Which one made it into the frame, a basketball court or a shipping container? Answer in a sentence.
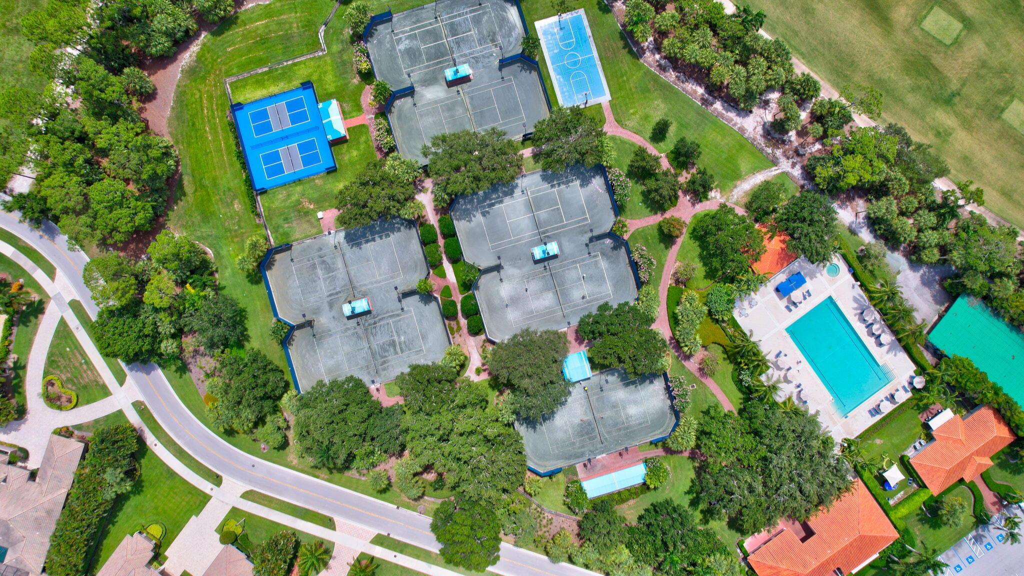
Of the two, only a basketball court appears.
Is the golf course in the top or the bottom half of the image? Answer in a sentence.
The golf course is in the top half of the image.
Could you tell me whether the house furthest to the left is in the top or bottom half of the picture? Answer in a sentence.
The bottom half of the photo is where the house furthest to the left is.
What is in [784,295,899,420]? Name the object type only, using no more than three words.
swimming pool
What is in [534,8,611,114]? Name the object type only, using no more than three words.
basketball court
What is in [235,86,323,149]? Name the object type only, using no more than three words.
sports court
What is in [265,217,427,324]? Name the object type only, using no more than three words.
tennis court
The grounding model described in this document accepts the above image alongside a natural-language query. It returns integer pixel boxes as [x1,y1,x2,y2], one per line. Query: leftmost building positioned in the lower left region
[0,434,85,576]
